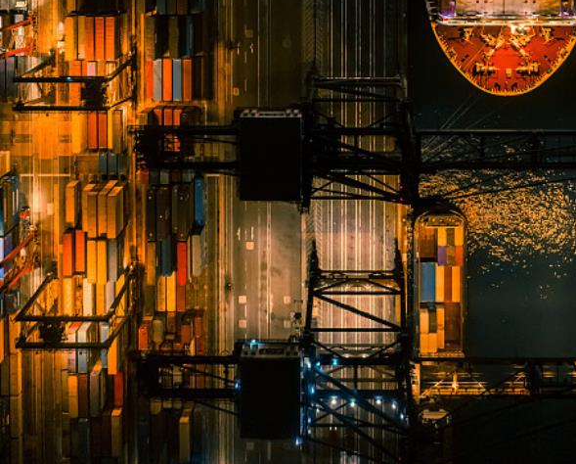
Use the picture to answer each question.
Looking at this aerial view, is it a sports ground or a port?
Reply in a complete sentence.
The area seen from above is a port.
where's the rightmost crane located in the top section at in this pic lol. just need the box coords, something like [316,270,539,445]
[116,58,576,208]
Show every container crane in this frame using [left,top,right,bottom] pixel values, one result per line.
[116,240,576,464]
[8,263,134,345]
[0,11,38,62]
[116,58,576,208]
[7,56,134,112]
